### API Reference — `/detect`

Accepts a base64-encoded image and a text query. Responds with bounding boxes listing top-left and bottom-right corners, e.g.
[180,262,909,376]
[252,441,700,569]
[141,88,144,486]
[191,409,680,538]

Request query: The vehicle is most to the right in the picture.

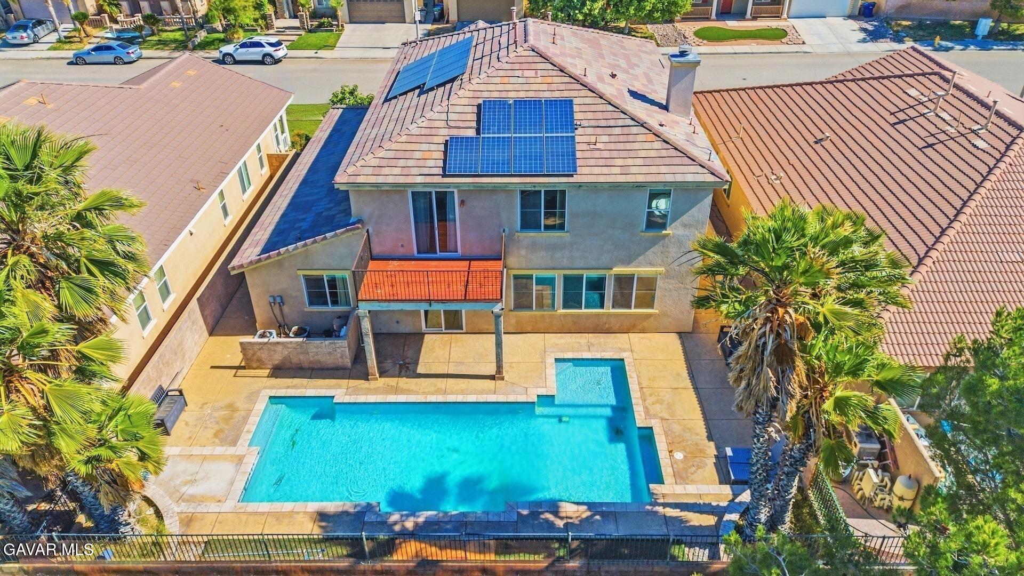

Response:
[223,36,292,65]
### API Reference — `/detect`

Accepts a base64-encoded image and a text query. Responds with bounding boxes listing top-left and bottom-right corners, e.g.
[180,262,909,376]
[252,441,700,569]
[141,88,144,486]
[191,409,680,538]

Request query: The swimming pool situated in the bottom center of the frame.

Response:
[223,352,679,522]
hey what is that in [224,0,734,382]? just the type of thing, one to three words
house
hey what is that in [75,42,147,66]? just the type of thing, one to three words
car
